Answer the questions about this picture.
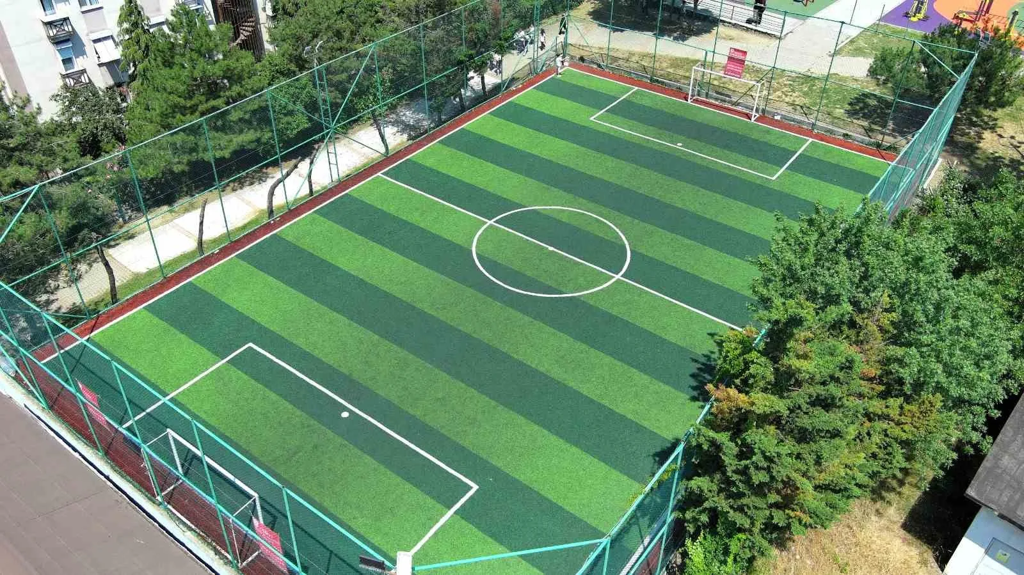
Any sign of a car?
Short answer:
No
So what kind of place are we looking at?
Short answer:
sports ground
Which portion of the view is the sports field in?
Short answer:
center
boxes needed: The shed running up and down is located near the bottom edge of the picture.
[946,399,1024,575]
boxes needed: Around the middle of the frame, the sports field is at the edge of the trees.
[48,69,908,575]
